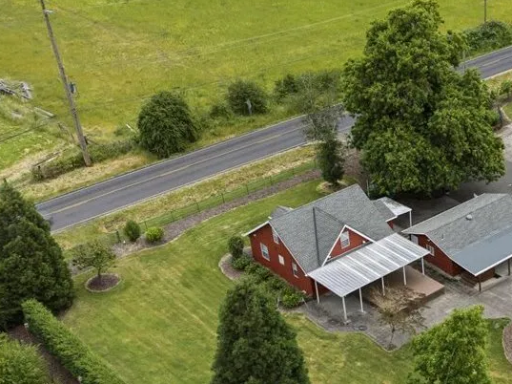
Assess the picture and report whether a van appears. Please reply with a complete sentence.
No, I can't see a single van in this photo.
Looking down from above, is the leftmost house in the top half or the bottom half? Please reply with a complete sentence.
The bottom half of the photo is where the leftmost house is.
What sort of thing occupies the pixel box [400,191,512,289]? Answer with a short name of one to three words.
building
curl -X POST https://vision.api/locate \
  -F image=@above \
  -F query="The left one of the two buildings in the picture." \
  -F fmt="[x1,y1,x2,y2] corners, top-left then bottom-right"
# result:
[241,184,444,321]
